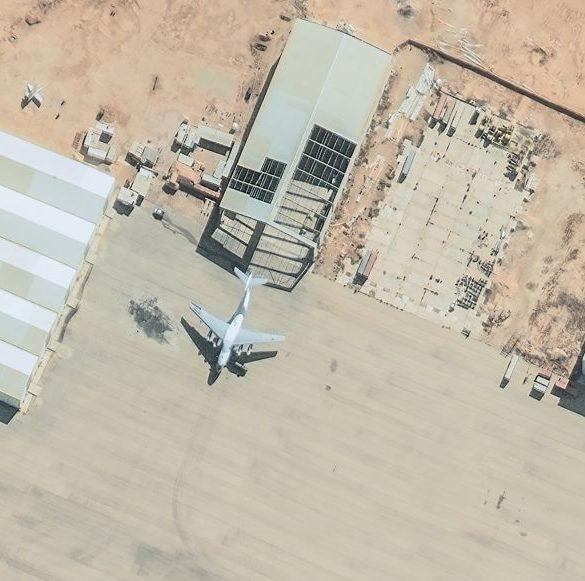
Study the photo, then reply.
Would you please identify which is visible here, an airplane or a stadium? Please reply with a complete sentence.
There is an airplane in the scene.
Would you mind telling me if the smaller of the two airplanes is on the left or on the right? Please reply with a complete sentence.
The smaller of the two airplanes is on the left side of the image.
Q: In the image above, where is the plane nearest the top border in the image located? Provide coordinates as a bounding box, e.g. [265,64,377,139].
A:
[21,84,47,105]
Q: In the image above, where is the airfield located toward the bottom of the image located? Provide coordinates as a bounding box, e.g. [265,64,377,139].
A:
[0,205,585,581]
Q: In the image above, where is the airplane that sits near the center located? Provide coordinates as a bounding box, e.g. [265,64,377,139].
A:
[189,267,283,374]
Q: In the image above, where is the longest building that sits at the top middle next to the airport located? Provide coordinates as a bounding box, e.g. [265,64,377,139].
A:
[212,19,393,266]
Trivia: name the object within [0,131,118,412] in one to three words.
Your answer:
warehouse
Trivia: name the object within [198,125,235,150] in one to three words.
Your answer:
building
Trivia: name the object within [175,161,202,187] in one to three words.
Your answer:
building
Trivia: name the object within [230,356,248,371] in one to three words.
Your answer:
vehicle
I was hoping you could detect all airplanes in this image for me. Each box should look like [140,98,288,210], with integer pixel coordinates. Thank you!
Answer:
[21,84,47,105]
[189,267,283,374]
